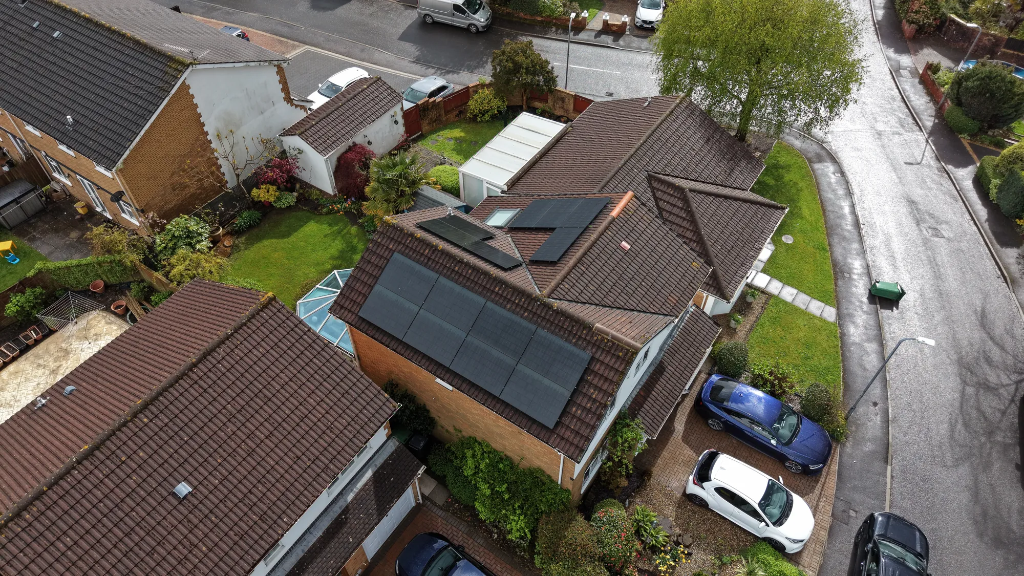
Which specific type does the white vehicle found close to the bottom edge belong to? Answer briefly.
automobile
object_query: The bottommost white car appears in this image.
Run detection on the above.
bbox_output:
[685,450,820,555]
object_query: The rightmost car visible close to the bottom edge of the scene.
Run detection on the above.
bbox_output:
[853,506,944,576]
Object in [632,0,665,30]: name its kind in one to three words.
car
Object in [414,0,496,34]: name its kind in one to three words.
van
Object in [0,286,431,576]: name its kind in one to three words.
house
